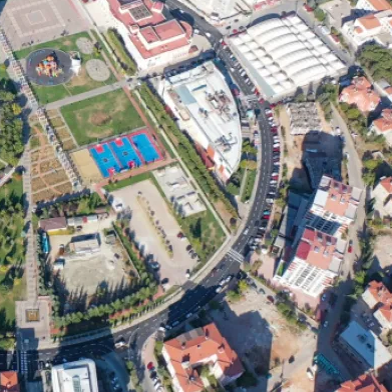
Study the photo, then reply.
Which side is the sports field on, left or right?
left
